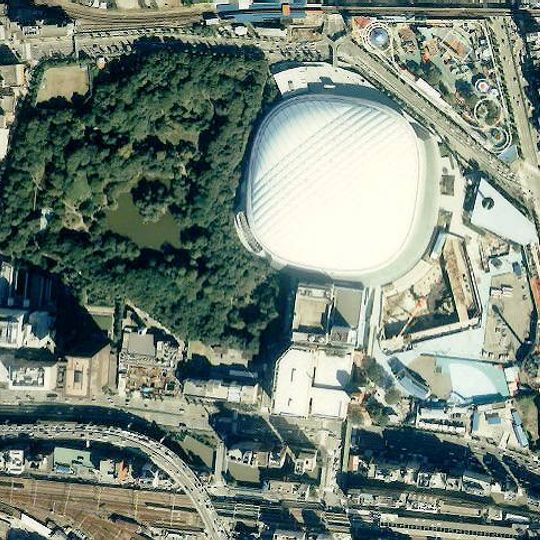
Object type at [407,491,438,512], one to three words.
building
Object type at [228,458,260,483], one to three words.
building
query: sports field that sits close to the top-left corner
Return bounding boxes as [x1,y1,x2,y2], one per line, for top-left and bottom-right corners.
[35,65,92,107]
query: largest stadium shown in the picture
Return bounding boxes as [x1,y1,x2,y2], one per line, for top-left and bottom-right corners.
[246,90,441,286]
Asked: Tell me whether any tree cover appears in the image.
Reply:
Yes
